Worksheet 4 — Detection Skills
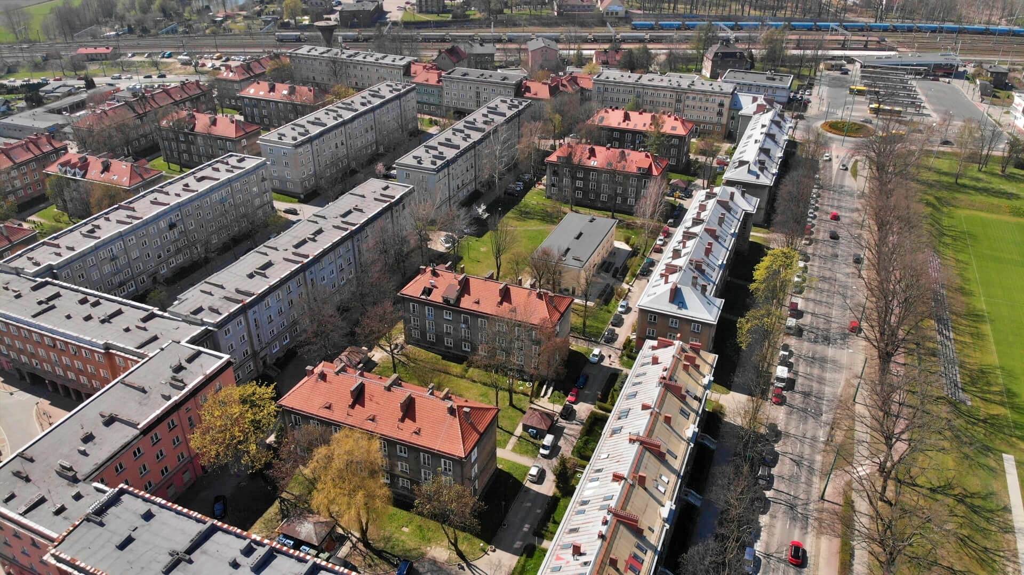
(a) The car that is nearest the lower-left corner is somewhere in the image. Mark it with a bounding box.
[211,493,227,520]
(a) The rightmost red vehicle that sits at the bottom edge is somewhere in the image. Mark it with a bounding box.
[787,539,805,571]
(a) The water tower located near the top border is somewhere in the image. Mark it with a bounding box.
[312,20,336,47]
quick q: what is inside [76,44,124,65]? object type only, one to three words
shed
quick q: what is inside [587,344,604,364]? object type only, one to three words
car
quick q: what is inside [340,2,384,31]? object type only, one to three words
shed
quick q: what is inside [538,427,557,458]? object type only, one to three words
vehicle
